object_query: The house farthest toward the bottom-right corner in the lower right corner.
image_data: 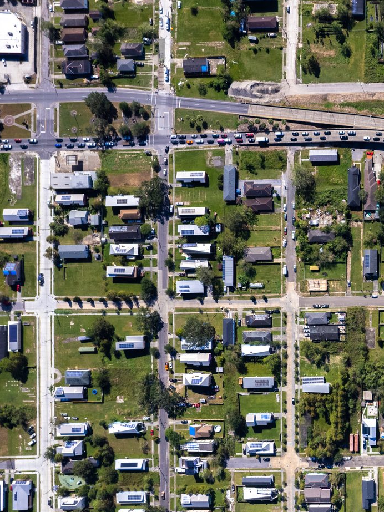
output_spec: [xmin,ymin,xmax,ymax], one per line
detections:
[362,476,377,512]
